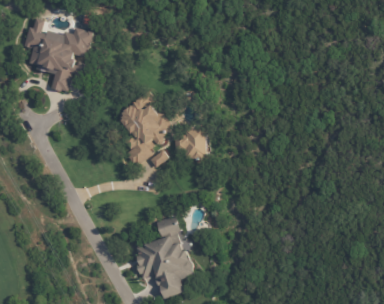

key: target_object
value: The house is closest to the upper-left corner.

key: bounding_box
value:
[28,18,98,94]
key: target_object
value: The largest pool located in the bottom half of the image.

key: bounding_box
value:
[191,209,205,230]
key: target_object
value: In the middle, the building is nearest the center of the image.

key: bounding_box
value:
[177,131,209,160]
